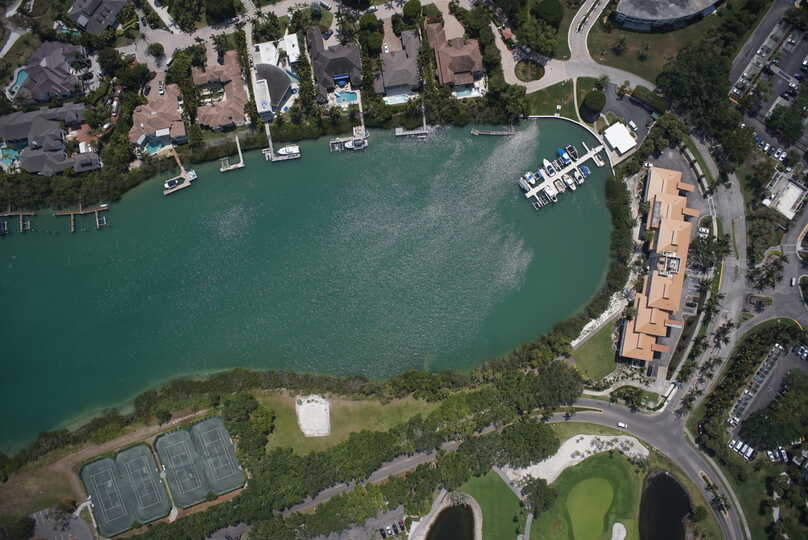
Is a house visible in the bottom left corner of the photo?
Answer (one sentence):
No, no house can be made out in the bottom left corner of the photo.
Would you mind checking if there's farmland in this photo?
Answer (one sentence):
No, no farmland is visible.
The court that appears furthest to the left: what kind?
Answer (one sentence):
The court that appears furthest to the left appears to be a tennis court.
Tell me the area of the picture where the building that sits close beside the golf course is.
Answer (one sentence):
The building that sits close beside the golf course is located in the right region of the scene.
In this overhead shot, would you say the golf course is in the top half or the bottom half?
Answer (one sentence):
The golf course is in the bottom half of the image.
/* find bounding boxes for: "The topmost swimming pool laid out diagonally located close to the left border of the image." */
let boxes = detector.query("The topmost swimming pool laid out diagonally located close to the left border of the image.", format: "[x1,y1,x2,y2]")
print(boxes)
[10,69,28,92]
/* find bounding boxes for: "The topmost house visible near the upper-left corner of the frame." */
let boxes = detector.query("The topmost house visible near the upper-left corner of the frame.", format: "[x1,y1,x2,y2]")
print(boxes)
[64,0,140,36]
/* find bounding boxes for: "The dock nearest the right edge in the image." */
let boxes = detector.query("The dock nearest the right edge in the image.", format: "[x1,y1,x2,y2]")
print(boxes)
[522,141,604,207]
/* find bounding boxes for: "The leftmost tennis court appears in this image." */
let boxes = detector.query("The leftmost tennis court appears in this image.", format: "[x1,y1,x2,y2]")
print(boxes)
[81,459,139,537]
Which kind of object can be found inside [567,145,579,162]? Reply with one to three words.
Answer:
boat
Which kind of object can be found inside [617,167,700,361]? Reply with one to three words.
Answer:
building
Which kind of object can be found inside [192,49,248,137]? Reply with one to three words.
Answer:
house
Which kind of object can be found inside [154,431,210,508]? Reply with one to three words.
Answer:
tennis court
